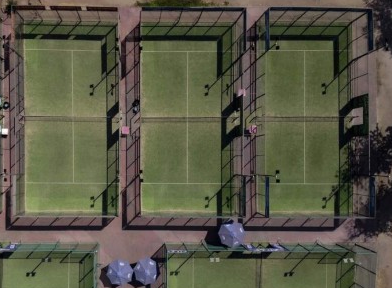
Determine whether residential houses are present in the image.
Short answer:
No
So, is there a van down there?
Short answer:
No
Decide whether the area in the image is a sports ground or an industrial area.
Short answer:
sports ground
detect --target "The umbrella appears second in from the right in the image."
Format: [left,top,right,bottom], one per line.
[132,256,158,282]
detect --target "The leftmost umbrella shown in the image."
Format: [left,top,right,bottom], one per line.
[106,257,132,284]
